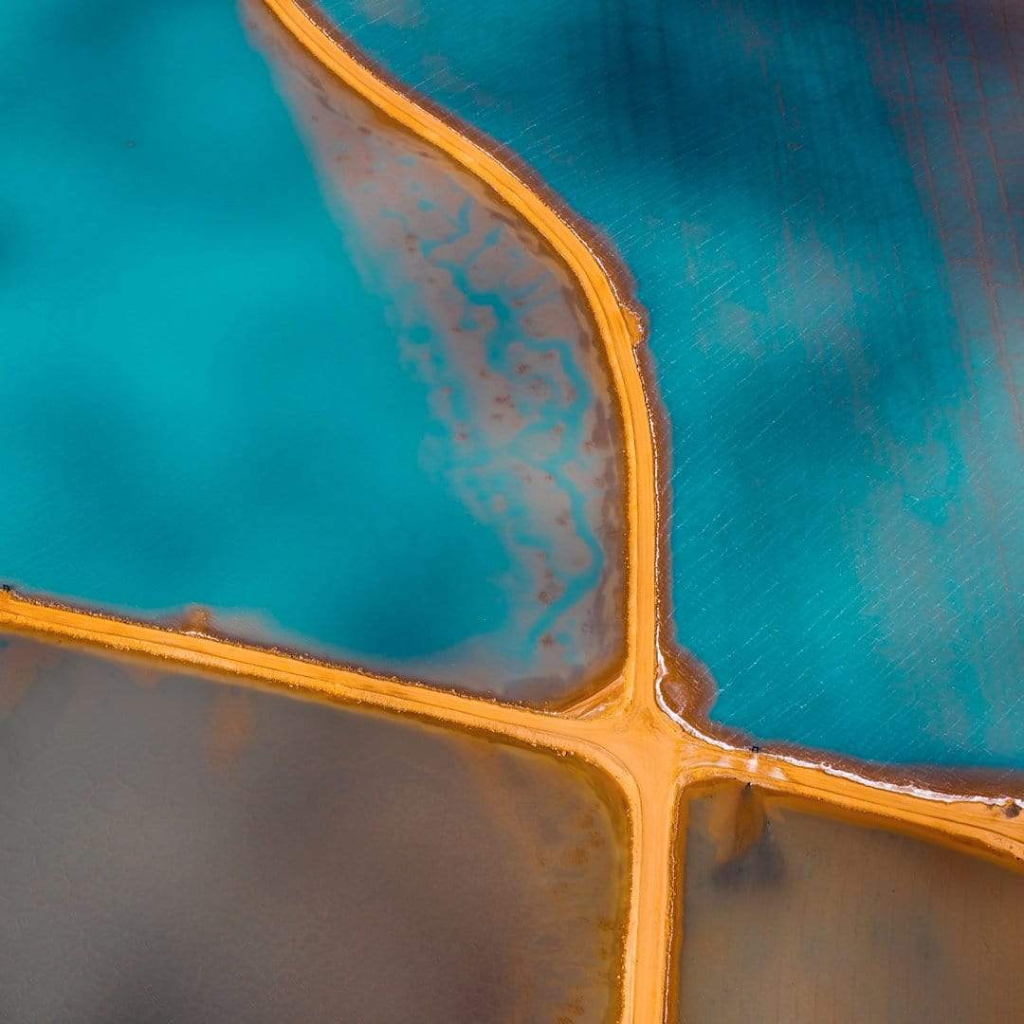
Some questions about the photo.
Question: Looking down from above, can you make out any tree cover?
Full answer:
No, the picture contains no tree cover.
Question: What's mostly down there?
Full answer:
The bulk of the photo consists of water.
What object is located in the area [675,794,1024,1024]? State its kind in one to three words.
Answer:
pond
